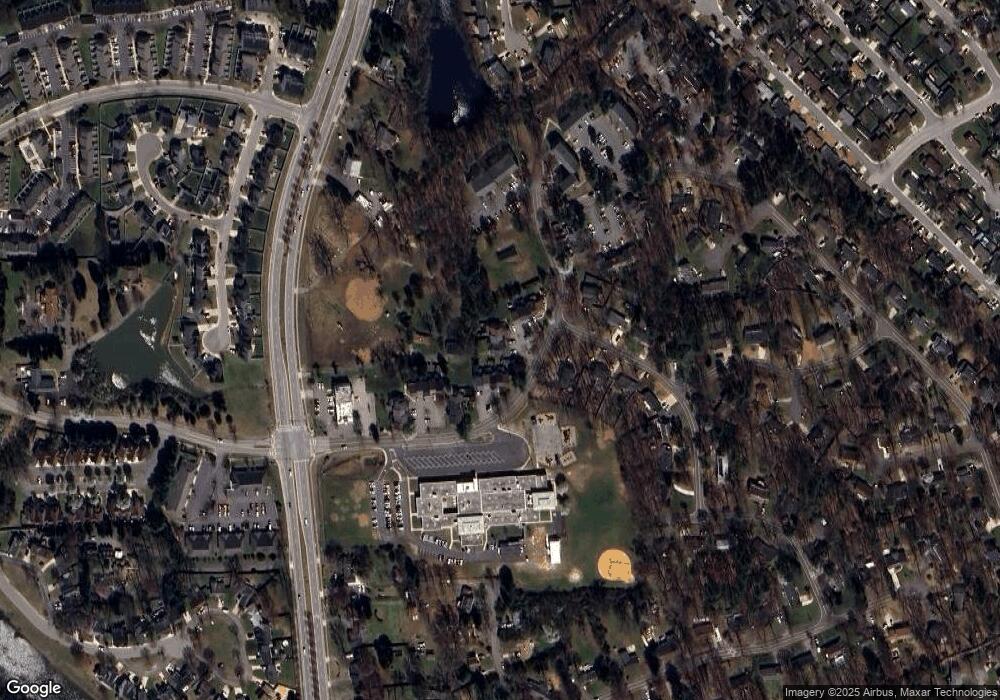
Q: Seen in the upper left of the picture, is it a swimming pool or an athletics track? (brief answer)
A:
swimming pool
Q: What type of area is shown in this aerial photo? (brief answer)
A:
residential area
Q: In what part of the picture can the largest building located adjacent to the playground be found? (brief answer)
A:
bottom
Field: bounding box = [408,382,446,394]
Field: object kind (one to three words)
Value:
house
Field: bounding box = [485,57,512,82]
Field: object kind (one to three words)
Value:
house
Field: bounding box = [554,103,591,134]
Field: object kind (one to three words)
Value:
building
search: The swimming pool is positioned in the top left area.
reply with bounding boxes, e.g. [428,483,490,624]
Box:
[20,139,45,169]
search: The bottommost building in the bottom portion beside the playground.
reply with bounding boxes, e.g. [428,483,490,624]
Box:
[417,474,556,546]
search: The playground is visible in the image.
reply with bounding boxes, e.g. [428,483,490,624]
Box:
[533,413,576,468]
